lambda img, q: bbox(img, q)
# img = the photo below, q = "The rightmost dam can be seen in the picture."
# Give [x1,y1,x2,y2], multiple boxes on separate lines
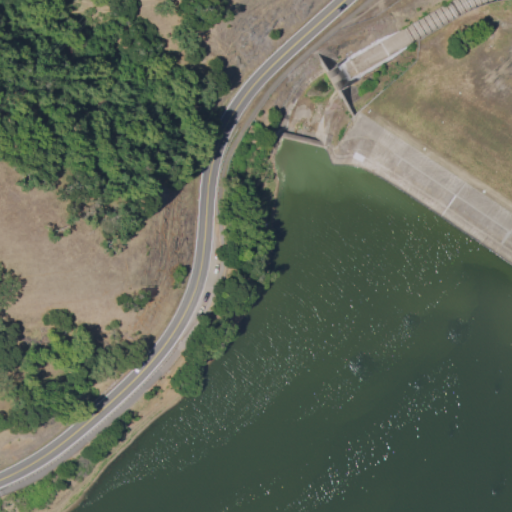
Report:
[330,113,512,266]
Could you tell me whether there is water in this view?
Yes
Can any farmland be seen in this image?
No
